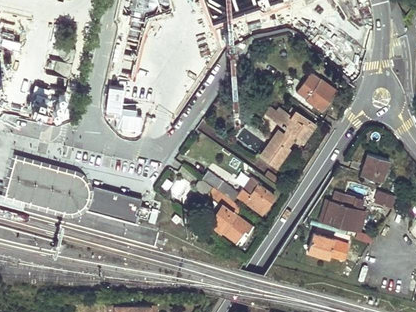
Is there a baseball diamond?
No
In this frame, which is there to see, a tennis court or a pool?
pool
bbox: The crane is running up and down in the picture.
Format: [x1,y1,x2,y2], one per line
[225,0,239,120]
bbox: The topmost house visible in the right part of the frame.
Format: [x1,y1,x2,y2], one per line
[297,74,337,113]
